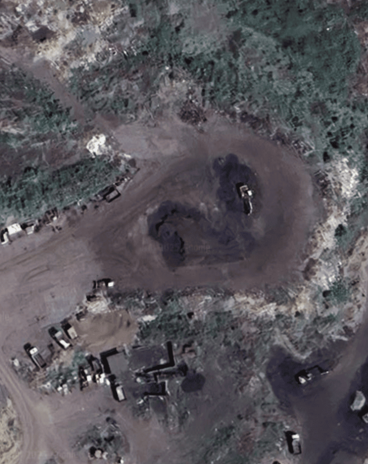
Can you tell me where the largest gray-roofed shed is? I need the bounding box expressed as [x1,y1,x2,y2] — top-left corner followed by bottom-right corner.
[107,351,130,375]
